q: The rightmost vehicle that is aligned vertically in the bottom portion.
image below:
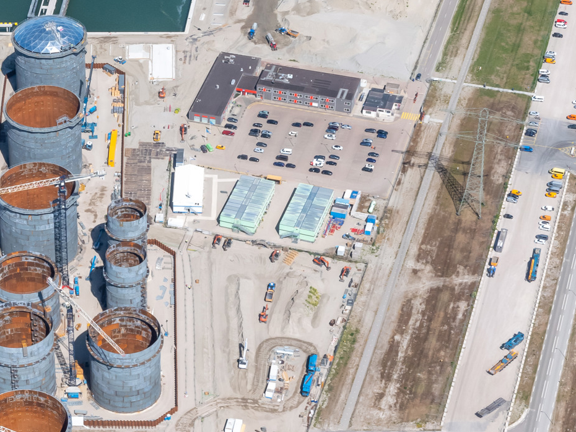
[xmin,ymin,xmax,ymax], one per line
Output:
[527,250,541,279]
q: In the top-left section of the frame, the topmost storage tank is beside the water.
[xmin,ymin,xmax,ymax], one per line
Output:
[10,14,86,106]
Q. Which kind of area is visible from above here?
industrial area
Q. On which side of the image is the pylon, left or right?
right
